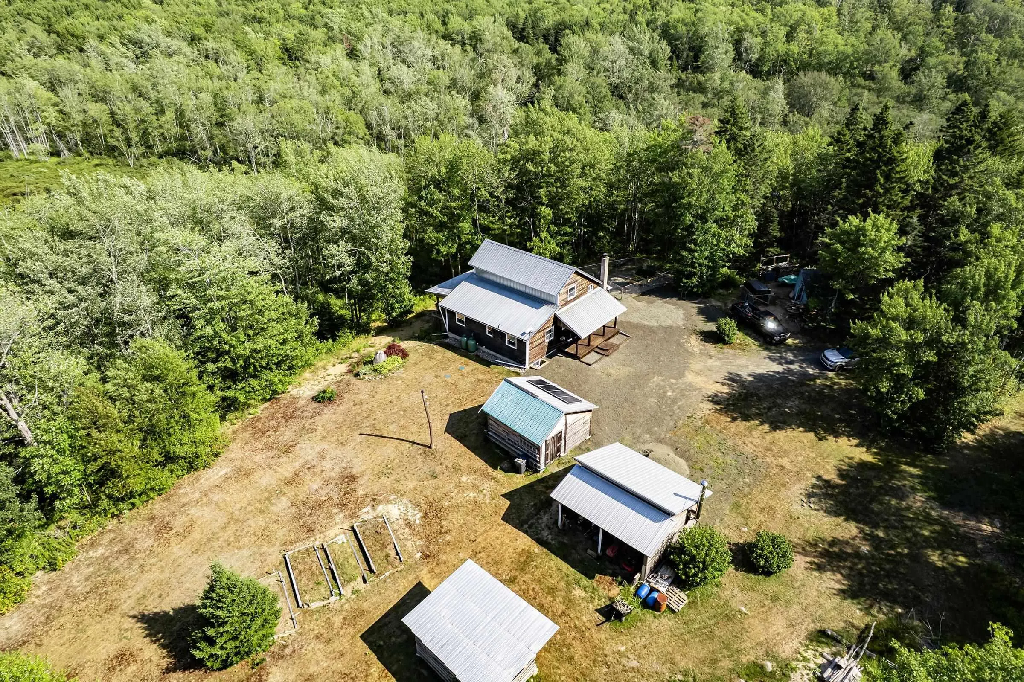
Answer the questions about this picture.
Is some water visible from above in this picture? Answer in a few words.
No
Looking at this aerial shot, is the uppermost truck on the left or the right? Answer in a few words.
right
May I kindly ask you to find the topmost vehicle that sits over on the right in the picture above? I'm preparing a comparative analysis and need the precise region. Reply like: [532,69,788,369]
[730,303,789,342]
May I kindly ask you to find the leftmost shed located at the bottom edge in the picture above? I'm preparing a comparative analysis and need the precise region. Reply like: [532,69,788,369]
[397,558,559,682]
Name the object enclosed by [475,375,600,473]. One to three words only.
shed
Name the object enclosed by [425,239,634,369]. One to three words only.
house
